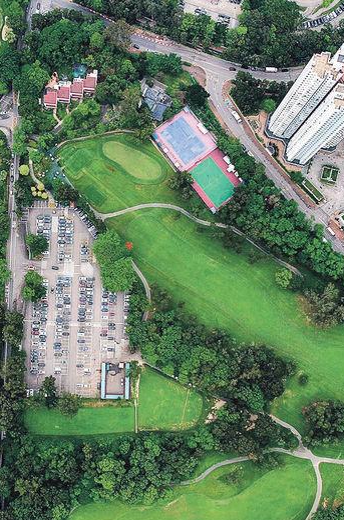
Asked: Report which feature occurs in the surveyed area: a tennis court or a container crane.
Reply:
tennis court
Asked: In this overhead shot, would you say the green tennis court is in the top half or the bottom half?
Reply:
top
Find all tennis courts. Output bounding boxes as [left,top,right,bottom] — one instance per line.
[152,105,219,172]
[183,147,243,215]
